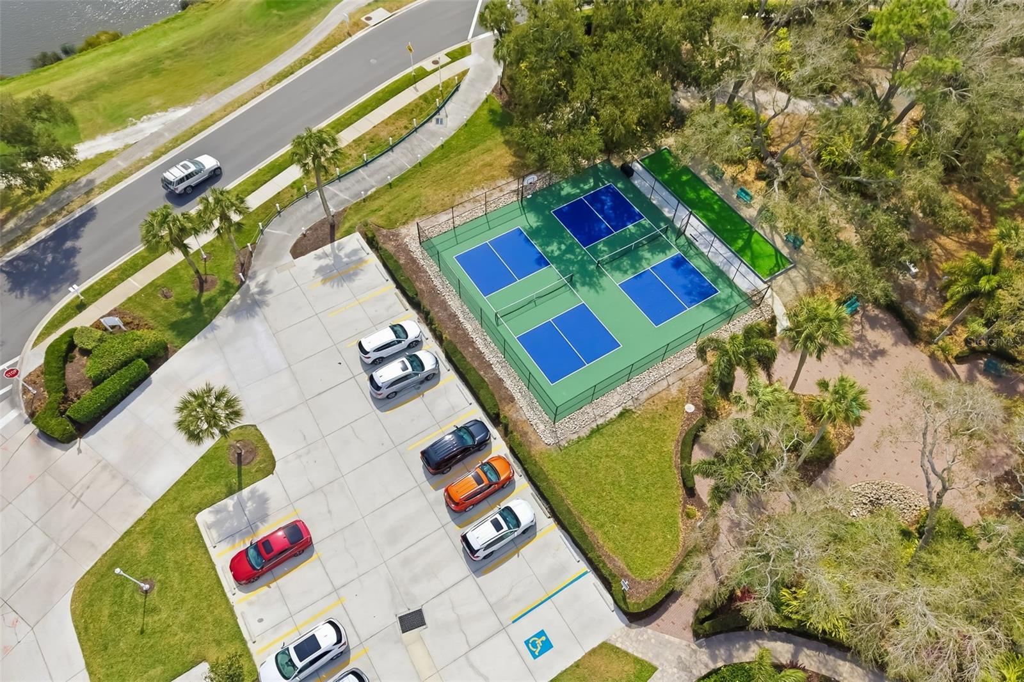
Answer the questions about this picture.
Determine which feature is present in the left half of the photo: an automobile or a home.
automobile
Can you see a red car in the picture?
Yes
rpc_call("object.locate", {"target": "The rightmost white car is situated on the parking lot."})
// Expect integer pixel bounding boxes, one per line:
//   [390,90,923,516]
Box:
[464,502,538,564]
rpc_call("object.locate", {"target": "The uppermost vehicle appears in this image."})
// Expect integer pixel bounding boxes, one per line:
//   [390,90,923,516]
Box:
[165,153,227,195]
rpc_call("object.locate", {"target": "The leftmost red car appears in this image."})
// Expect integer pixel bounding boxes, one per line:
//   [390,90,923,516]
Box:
[227,521,313,589]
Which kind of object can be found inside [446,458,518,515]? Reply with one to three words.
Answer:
car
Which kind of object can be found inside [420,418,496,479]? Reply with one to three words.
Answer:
car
